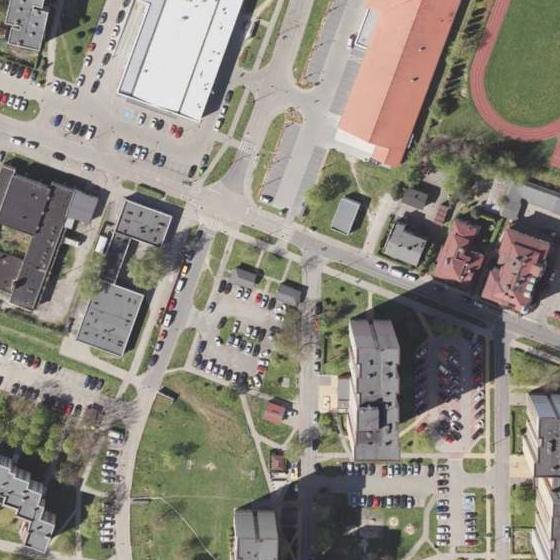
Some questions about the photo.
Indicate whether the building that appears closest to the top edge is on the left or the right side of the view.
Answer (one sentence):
The building that appears closest to the top edge is on the left side of the image.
